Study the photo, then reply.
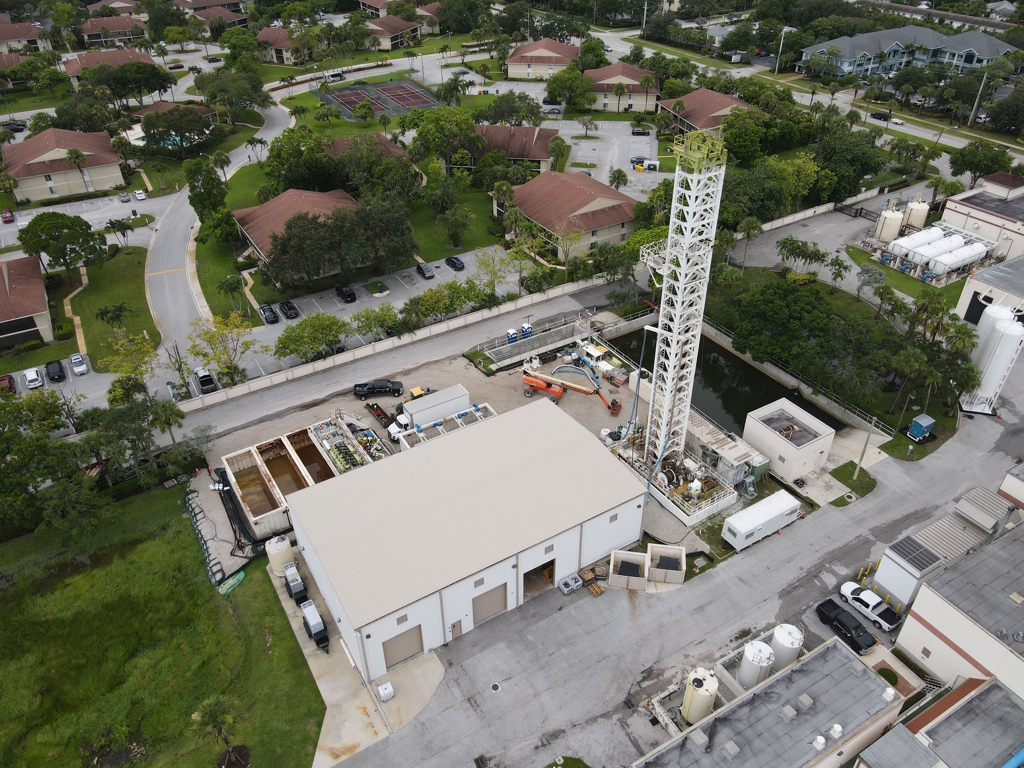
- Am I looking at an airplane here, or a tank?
tank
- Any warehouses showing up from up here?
Yes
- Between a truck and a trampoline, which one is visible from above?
truck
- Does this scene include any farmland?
No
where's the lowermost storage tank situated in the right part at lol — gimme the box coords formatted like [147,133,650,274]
[675,677,719,726]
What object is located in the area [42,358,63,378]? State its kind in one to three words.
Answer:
car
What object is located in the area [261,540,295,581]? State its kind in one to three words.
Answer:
storage tank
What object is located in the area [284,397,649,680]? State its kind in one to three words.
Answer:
warehouse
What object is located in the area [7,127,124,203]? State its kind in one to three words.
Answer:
house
